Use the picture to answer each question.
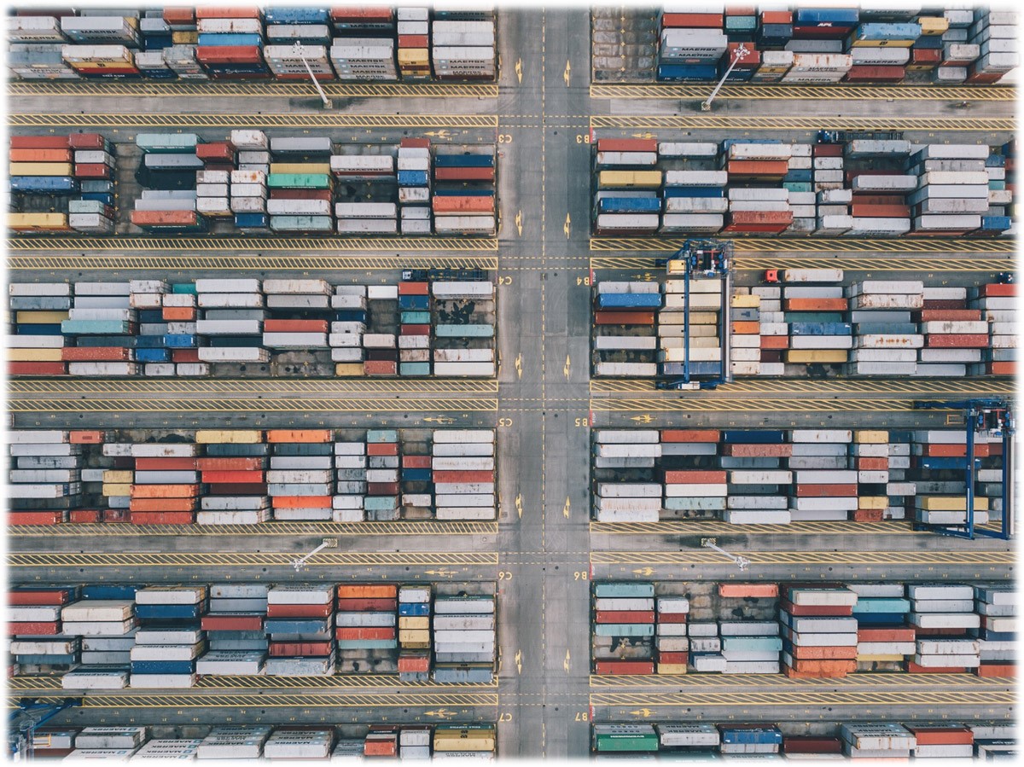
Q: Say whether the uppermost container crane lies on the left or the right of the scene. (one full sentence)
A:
It is on the right.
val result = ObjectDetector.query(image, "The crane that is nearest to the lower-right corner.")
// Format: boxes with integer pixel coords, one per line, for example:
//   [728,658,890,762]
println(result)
[896,401,1021,545]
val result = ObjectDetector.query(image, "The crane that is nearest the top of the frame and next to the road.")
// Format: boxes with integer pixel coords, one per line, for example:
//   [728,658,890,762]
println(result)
[648,239,739,389]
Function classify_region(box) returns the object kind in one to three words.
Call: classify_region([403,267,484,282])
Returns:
vehicle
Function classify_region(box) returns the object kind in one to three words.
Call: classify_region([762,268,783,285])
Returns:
vehicle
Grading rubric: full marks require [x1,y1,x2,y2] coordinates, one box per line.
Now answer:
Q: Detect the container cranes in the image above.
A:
[0,700,99,767]
[896,401,1021,545]
[648,239,739,389]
